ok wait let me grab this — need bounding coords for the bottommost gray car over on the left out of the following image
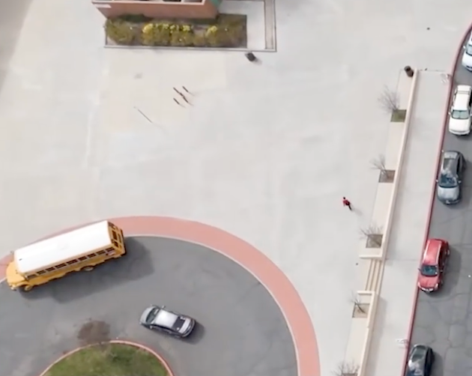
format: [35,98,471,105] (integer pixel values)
[143,307,196,337]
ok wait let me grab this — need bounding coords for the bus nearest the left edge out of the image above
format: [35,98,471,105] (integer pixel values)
[11,223,125,289]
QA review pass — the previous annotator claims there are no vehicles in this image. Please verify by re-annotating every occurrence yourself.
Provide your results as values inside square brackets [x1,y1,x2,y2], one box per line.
[464,33,472,69]
[11,223,125,289]
[437,152,463,203]
[143,307,196,337]
[418,238,449,293]
[408,346,435,376]
[447,82,472,136]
